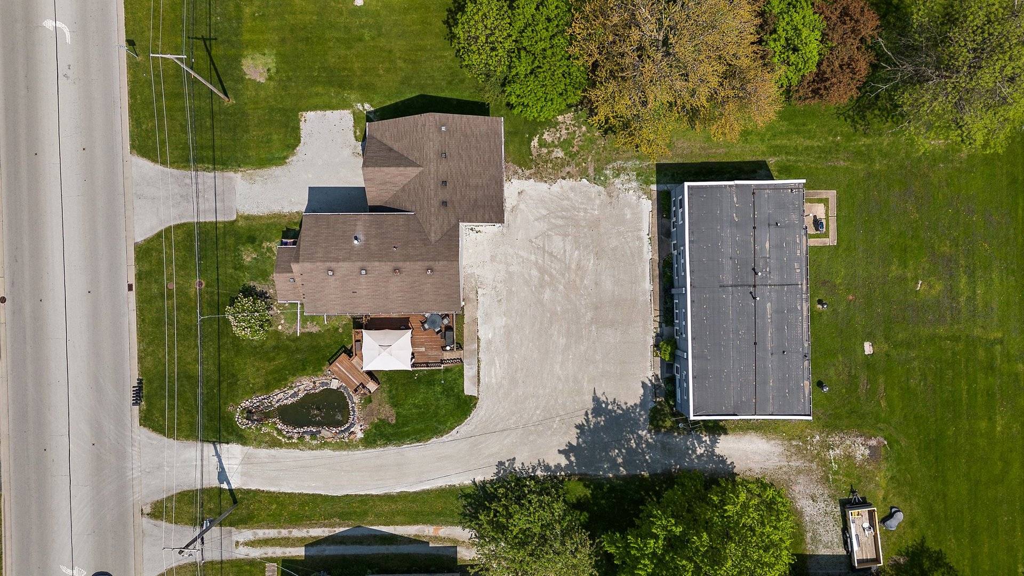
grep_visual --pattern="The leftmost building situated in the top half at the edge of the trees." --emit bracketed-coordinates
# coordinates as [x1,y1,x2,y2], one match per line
[273,112,506,336]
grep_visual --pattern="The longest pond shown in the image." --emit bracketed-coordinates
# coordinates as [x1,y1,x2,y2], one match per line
[237,372,363,441]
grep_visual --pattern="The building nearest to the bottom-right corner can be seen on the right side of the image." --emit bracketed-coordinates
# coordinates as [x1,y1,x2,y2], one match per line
[672,179,813,419]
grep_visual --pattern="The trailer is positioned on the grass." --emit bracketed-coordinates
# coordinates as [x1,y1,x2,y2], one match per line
[840,486,883,569]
